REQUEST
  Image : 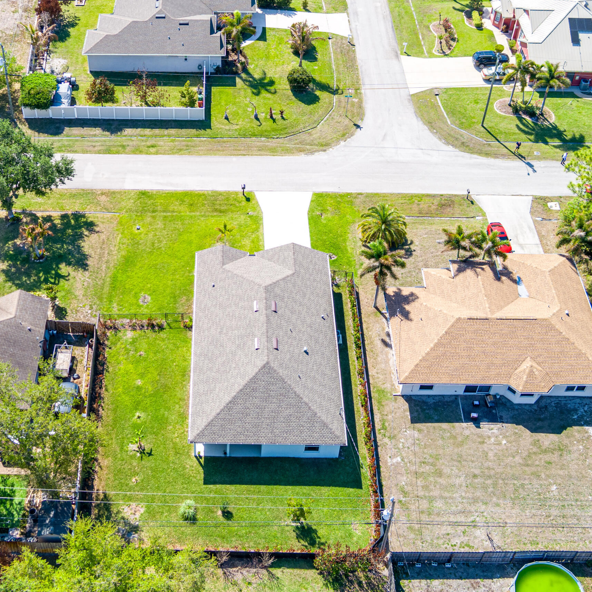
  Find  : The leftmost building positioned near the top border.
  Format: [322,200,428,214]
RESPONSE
[81,0,257,76]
